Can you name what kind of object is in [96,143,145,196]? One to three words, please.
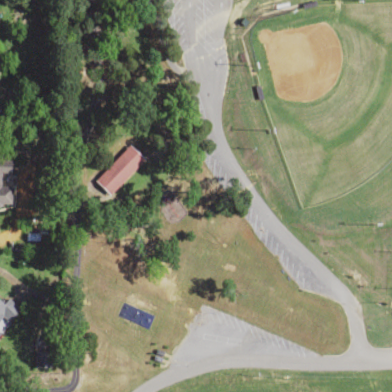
barn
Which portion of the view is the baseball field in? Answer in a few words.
top right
